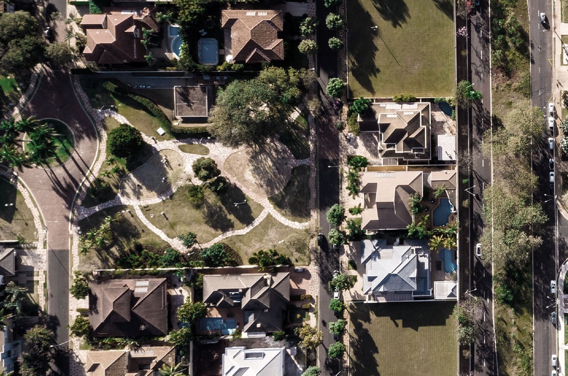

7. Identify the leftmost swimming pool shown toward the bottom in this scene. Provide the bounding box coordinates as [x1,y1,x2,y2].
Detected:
[199,317,235,335]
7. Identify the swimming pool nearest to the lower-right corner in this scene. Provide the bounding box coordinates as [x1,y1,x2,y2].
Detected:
[439,248,455,273]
